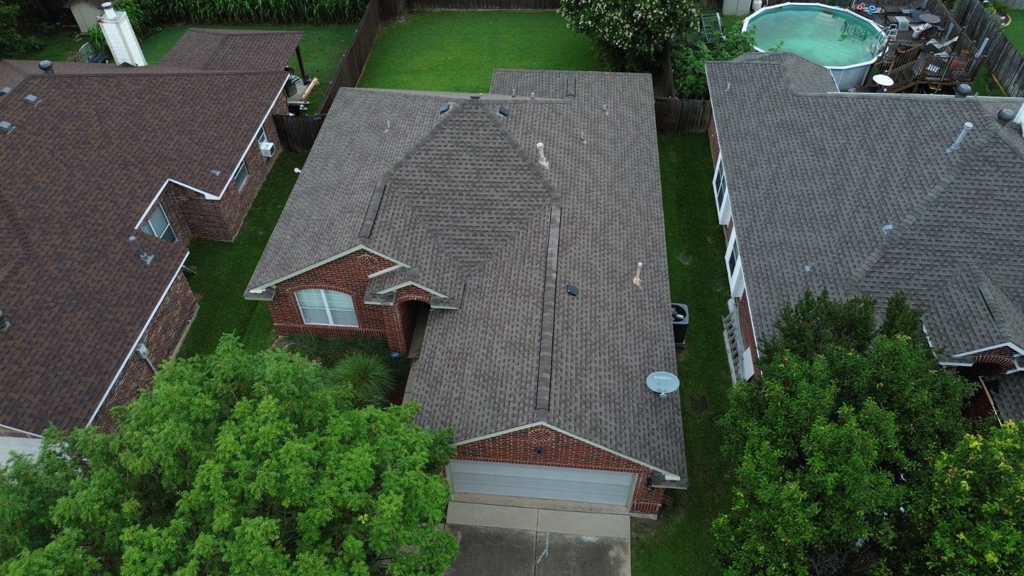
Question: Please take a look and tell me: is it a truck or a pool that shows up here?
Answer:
pool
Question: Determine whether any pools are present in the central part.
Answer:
No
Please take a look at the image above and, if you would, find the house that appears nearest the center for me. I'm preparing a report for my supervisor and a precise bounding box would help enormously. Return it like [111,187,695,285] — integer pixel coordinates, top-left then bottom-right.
[245,70,688,518]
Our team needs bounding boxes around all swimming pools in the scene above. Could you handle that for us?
[740,1,885,92]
